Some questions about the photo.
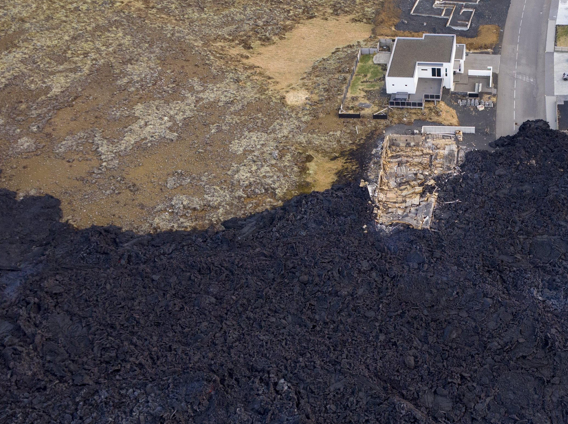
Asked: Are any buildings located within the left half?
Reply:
No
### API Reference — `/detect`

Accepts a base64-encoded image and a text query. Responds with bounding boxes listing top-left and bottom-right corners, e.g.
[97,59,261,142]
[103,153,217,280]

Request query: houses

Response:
[374,132,463,231]
[387,34,465,115]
